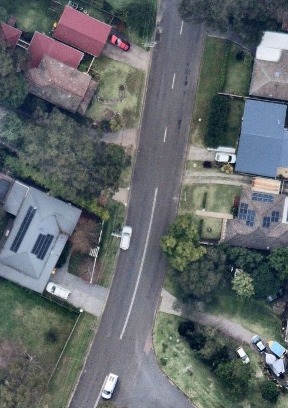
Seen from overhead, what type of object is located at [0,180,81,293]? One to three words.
house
